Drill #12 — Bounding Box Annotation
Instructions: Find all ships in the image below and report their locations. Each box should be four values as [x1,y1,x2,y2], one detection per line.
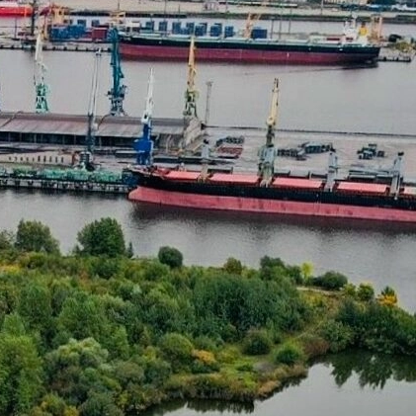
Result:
[126,138,416,222]
[0,0,42,15]
[114,14,381,65]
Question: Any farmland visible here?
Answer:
No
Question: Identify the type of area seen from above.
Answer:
port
